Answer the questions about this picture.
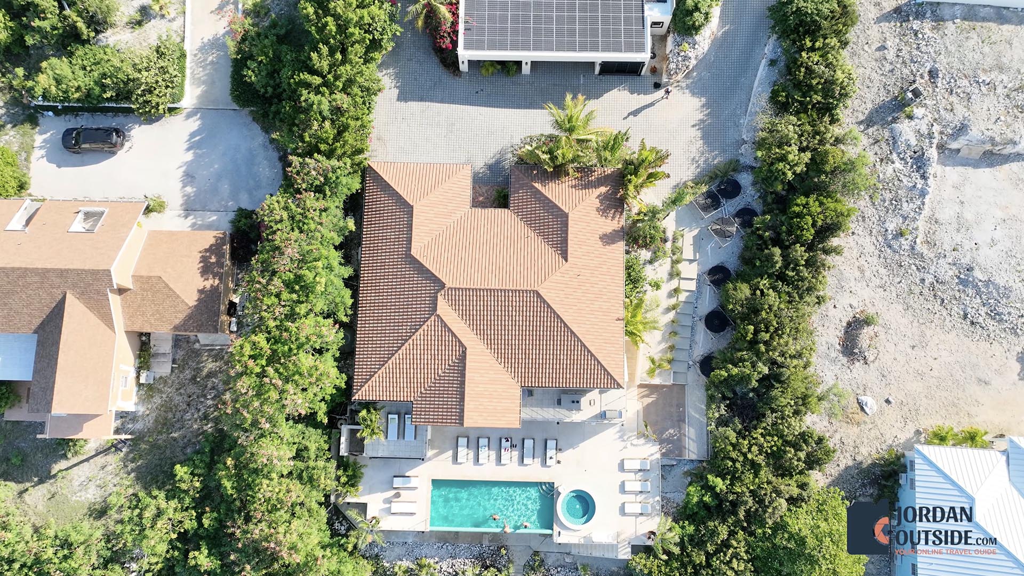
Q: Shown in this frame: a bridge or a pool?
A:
pool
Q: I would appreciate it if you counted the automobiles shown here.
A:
1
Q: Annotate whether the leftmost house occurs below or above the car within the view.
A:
below it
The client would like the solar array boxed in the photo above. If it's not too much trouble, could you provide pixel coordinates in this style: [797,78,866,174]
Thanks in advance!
[464,0,647,53]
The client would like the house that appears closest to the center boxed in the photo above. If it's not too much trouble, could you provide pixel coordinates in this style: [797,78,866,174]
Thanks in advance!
[351,160,626,457]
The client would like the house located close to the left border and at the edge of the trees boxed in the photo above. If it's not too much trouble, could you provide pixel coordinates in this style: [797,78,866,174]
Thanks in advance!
[0,197,235,415]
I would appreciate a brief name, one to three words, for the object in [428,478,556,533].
swimming pool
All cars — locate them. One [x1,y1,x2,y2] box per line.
[56,123,122,155]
